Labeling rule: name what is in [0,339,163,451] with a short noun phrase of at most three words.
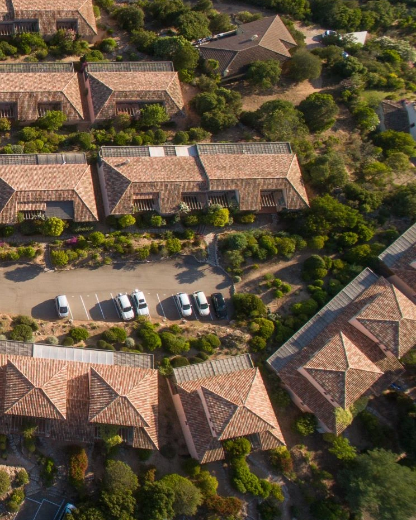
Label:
house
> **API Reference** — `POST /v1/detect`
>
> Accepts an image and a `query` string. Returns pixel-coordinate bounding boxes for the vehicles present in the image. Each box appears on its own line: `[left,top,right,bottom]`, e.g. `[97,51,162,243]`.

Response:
[54,295,69,319]
[338,46,353,57]
[173,294,192,318]
[128,289,151,321]
[206,293,228,321]
[189,291,211,318]
[112,294,133,322]
[318,28,338,40]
